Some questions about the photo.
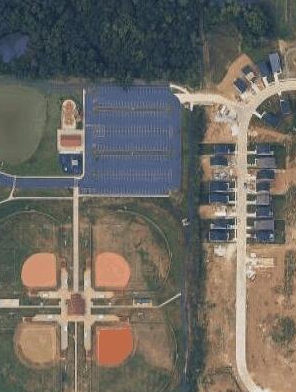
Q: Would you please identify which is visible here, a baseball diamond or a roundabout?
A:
baseball diamond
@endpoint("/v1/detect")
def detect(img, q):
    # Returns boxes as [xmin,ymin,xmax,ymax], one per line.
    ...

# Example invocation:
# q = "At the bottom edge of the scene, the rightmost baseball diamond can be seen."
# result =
[90,321,177,392]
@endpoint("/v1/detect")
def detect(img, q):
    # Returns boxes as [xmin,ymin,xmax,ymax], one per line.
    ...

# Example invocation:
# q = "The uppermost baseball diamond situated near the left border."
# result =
[0,203,63,293]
